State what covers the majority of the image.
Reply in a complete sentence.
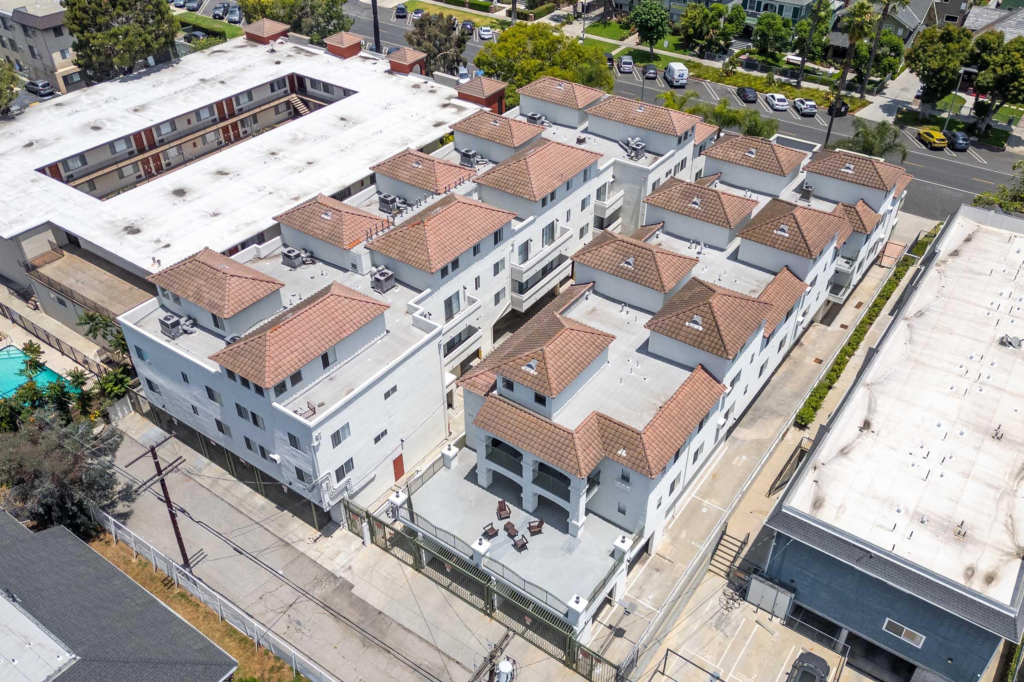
Most of the picture is covered by buildings.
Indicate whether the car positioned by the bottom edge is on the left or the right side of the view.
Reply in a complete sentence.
It is on the right.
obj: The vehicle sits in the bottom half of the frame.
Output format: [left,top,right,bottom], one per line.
[778,637,828,682]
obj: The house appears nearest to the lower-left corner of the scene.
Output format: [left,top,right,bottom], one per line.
[0,491,241,682]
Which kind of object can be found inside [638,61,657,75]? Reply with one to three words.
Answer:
car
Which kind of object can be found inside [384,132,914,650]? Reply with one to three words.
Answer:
building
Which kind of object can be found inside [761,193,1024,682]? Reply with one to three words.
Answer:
building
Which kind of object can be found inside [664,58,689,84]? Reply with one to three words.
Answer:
vehicle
